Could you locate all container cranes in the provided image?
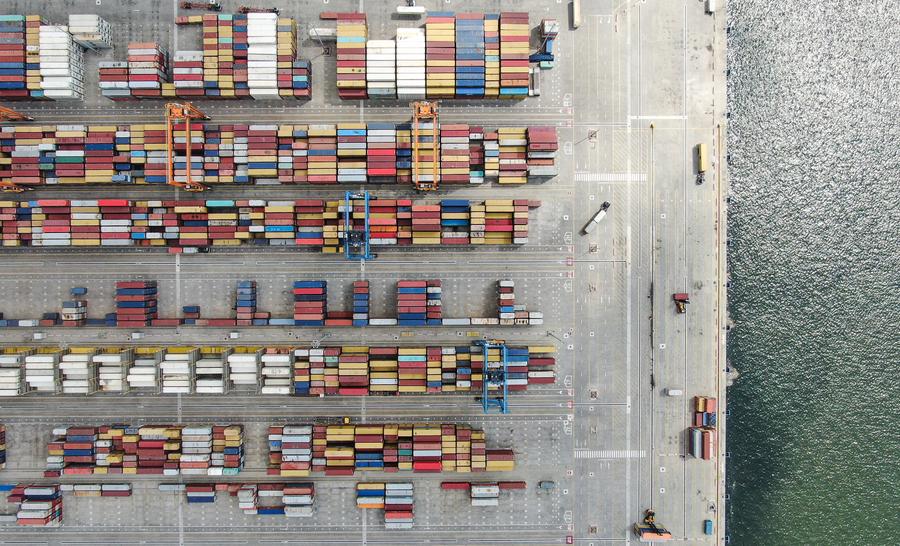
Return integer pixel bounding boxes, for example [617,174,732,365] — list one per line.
[0,101,33,192]
[163,100,211,192]
[345,187,378,259]
[411,99,442,191]
[476,339,508,413]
